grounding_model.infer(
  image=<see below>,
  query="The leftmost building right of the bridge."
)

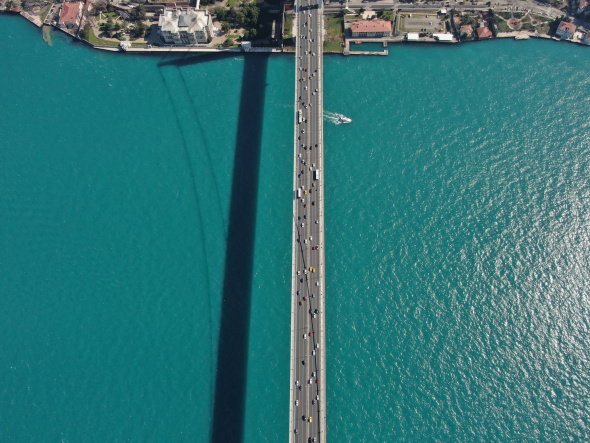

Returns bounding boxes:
[351,20,391,37]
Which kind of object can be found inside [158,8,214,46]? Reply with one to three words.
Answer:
building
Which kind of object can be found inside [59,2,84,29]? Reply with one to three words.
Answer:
house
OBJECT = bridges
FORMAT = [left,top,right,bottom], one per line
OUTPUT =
[290,0,326,443]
